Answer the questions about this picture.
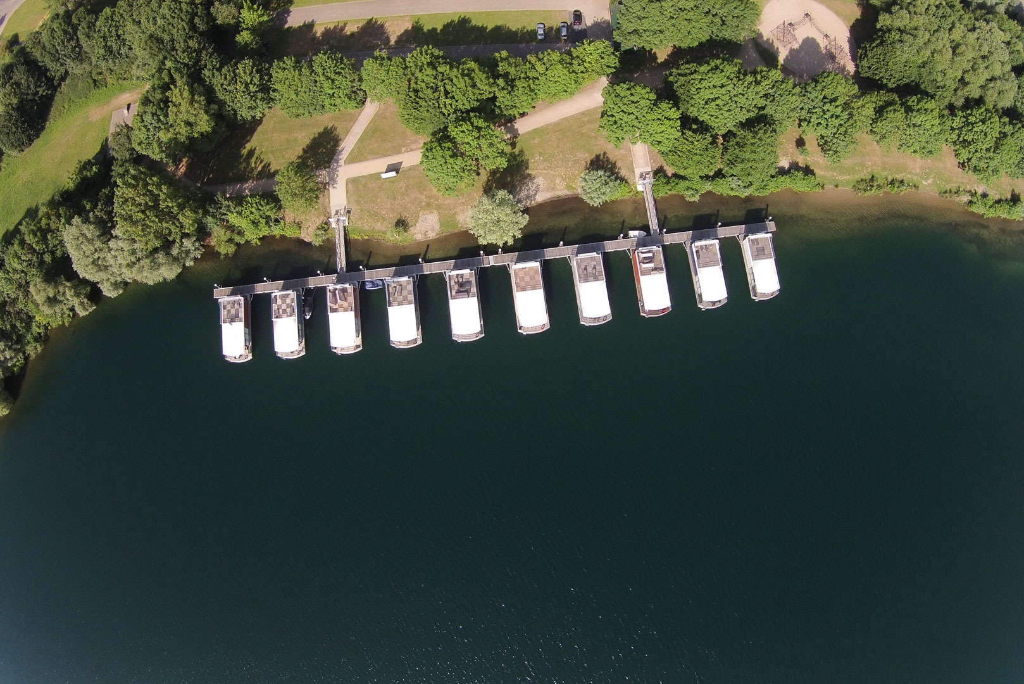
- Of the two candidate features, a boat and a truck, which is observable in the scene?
boat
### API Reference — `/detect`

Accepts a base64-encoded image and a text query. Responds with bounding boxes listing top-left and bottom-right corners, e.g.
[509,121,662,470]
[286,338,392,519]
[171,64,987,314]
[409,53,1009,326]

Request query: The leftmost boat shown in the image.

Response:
[217,295,254,364]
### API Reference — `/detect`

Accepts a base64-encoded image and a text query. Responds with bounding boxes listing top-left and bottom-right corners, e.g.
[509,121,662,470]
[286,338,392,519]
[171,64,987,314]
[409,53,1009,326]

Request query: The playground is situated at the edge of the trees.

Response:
[759,0,854,81]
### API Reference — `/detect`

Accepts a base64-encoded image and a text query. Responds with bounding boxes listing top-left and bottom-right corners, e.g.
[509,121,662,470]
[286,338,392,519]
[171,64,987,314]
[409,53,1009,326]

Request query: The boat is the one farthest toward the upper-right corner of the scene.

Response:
[739,233,781,302]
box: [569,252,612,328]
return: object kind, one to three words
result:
boat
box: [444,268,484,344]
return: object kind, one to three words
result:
boat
